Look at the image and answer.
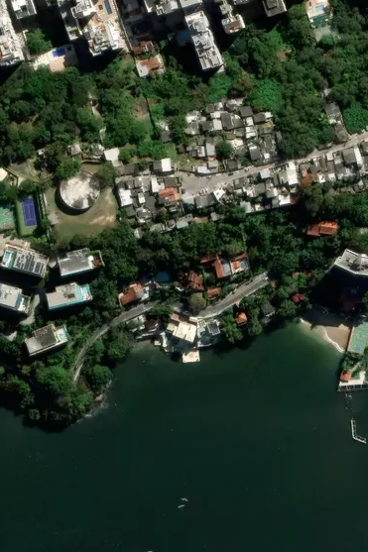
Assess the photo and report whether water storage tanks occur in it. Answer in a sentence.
Yes, there is a water storage tank in the image.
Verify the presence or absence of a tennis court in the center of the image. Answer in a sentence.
No, no tennis court is visible in the center of the image.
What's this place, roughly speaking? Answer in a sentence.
What you see here is a residential area.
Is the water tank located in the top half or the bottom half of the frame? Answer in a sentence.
The top half of the photo is where the water tank is.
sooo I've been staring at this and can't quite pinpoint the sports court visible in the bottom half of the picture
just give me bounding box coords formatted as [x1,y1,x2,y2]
[348,322,368,352]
